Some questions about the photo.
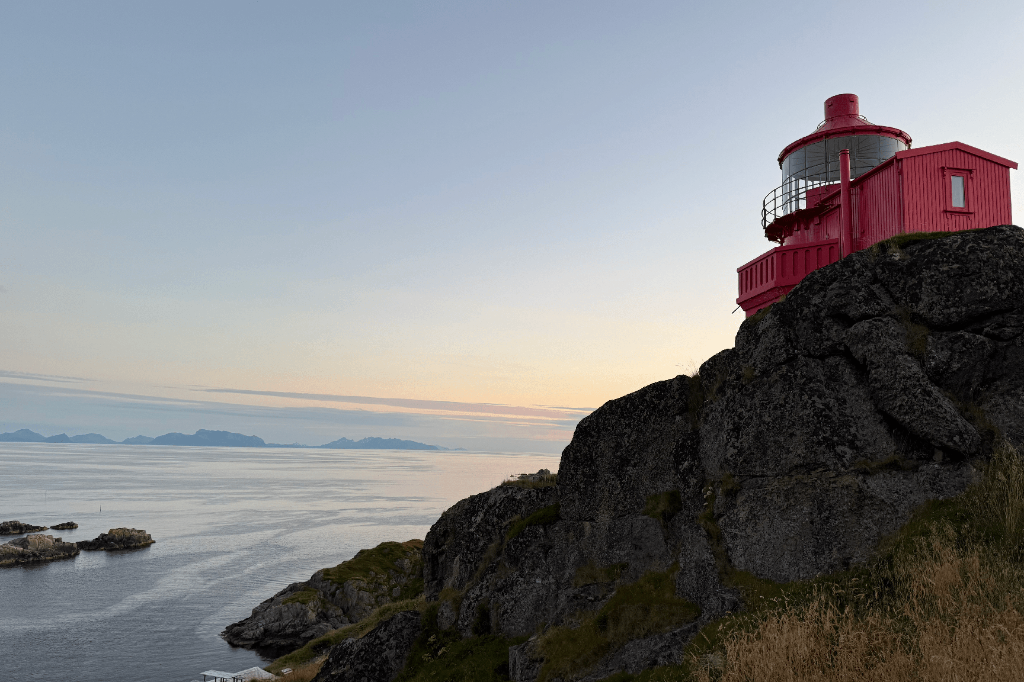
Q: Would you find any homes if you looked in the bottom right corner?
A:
No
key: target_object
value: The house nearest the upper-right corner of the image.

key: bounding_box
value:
[809,139,1018,257]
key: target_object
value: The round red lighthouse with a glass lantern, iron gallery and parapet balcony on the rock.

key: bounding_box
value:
[726,93,916,320]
